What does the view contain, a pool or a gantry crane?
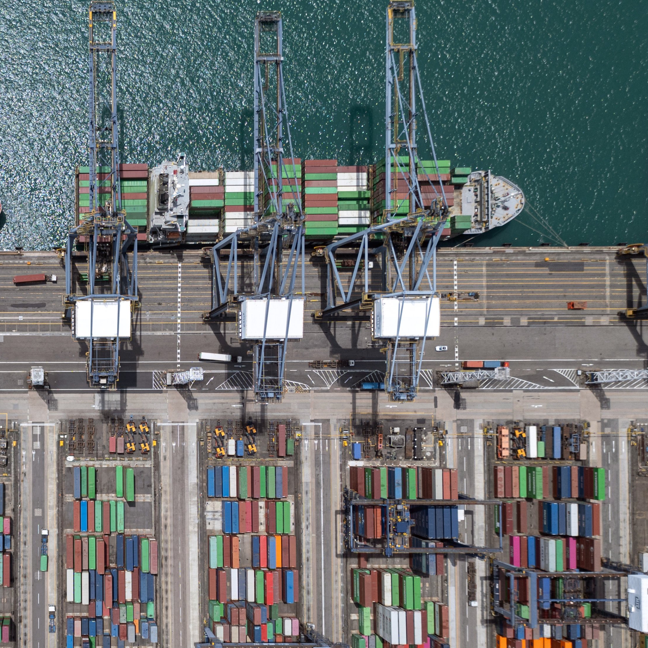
gantry crane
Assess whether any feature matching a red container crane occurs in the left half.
No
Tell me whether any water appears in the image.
Yes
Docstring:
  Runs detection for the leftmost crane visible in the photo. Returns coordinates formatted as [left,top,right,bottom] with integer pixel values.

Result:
[50,2,143,386]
